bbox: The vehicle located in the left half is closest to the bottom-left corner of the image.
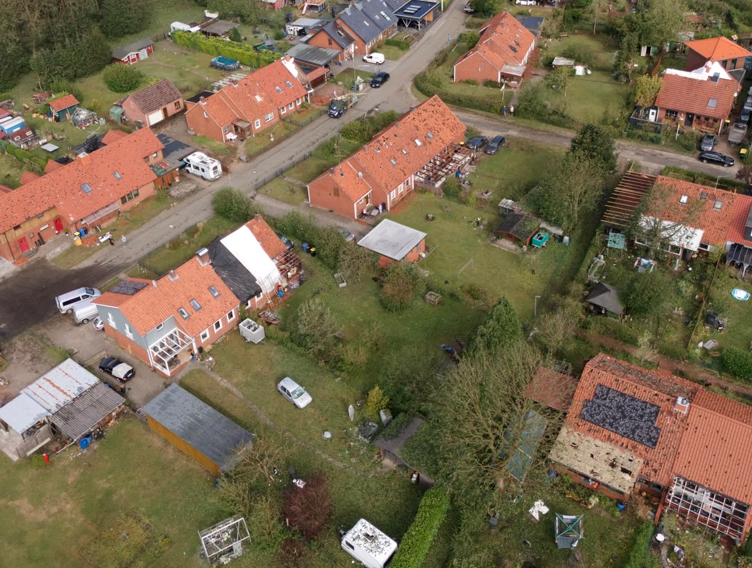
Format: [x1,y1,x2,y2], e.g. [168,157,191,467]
[89,352,138,381]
